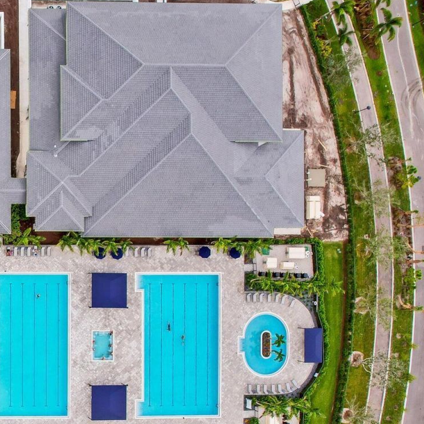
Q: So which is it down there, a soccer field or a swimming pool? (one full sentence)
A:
The one in the frame is a swimming pool.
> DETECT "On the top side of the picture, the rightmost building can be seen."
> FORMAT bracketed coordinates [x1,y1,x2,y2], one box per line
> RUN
[27,1,304,236]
